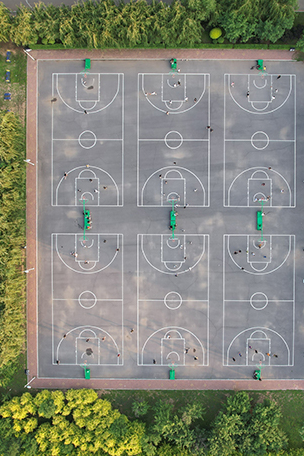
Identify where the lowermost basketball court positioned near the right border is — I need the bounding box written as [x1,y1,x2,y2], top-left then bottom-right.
[223,234,295,366]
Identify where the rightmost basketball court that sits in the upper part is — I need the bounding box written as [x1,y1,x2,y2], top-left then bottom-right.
[225,74,296,207]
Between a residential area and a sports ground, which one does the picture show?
sports ground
